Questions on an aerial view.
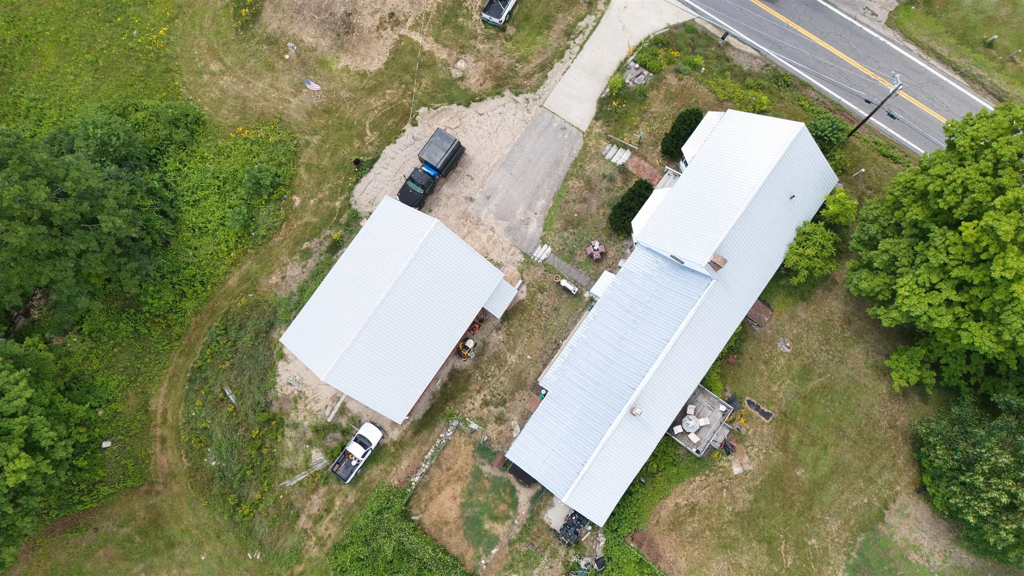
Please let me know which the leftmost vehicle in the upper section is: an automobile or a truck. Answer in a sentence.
The leftmost vehicle in the upper section can be classified as a truck.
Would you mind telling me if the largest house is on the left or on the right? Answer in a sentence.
It is on the right.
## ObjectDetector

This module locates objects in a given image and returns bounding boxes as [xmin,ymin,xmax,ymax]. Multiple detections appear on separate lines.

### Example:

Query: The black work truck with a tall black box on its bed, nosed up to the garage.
[399,128,463,210]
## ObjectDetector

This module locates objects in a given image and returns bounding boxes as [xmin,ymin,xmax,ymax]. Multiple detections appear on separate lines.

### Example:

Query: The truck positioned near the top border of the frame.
[483,0,513,26]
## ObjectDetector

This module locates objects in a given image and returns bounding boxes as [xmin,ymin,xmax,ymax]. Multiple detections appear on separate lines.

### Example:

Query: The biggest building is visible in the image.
[505,110,838,528]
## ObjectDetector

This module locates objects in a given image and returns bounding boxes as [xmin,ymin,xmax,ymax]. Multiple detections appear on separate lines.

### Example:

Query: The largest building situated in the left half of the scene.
[280,196,519,425]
